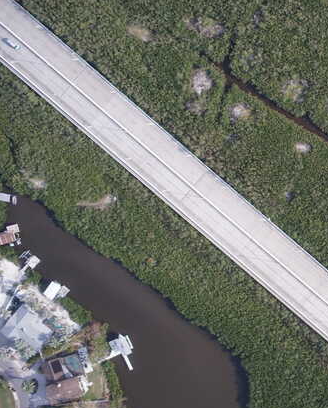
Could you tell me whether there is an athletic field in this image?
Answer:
No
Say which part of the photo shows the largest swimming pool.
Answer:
bottom left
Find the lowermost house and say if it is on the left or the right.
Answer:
left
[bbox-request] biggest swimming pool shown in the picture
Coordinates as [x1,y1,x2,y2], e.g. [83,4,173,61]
[62,351,85,380]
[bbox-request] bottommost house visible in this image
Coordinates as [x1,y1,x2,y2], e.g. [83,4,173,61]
[44,376,89,405]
